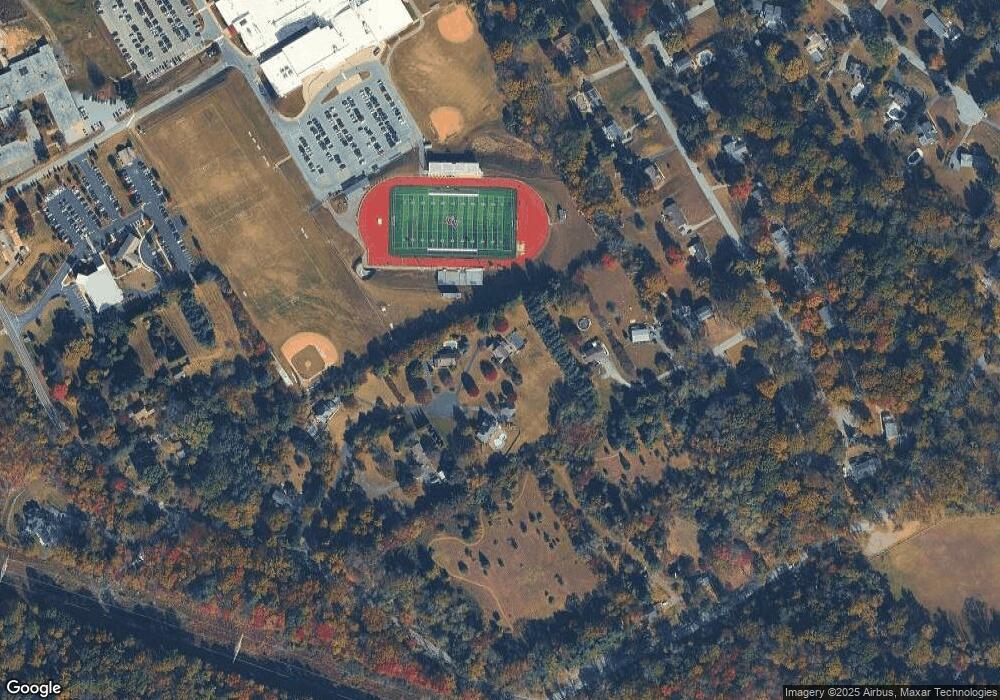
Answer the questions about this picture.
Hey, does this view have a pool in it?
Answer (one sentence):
Yes, this view includes a pool.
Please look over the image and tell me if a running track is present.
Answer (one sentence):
Yes, I can see a running track in this picture.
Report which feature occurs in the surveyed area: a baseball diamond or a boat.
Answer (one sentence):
I can see a baseball diamond in this picture.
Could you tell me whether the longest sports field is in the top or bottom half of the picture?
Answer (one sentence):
The top half of the photo is where the longest sports field is.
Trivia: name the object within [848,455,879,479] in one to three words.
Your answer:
house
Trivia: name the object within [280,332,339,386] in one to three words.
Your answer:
baseball field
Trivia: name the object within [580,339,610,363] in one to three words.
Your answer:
house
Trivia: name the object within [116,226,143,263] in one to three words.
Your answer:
building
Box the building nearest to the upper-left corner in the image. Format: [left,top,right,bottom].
[0,42,89,181]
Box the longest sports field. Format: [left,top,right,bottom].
[134,72,396,391]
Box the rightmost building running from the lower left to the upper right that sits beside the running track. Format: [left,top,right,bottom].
[341,175,370,199]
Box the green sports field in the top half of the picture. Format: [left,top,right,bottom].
[391,185,518,260]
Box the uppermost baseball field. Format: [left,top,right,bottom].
[438,1,473,42]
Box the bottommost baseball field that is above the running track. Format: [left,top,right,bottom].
[430,106,463,147]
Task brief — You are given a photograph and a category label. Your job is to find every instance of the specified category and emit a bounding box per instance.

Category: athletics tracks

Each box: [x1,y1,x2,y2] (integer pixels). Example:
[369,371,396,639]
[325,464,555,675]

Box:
[360,177,550,268]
